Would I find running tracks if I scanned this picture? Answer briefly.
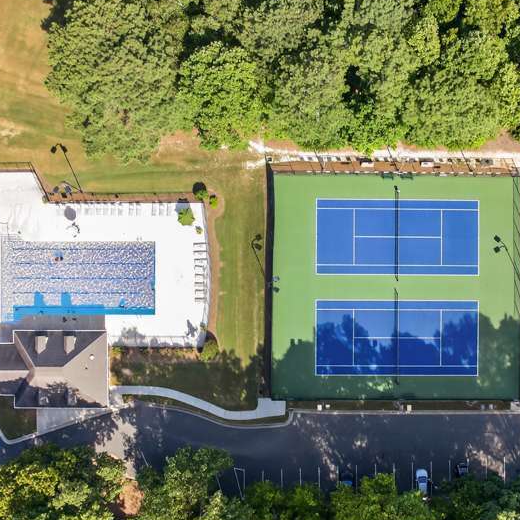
No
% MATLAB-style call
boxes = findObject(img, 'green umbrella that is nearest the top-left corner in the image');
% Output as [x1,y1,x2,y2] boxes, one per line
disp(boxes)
[175,209,192,226]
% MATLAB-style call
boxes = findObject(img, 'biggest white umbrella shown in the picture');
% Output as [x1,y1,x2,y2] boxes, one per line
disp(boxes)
[64,221,78,235]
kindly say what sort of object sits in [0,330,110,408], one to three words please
building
